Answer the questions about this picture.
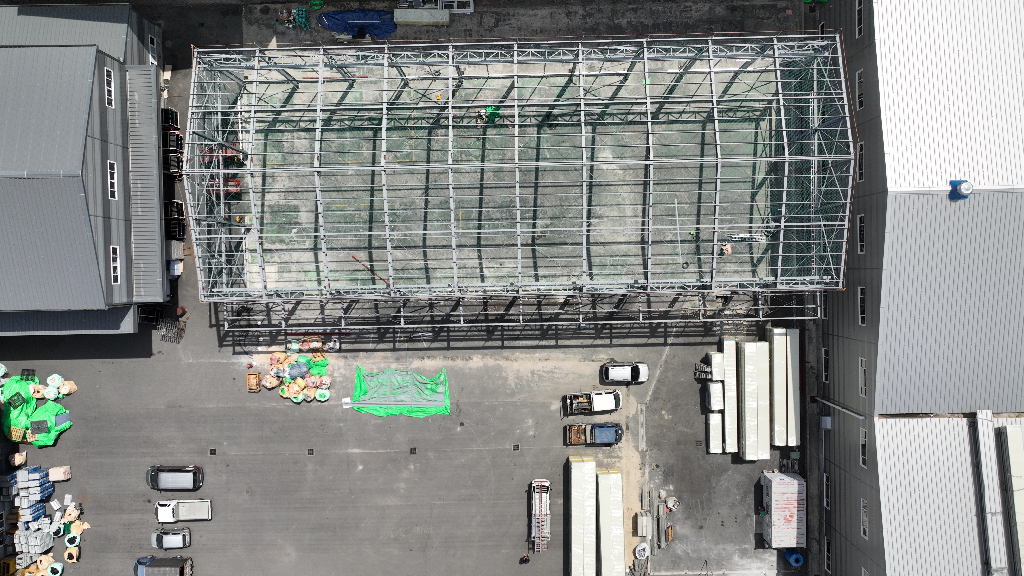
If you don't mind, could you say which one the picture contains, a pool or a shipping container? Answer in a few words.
shipping container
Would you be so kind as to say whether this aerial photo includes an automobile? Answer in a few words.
Yes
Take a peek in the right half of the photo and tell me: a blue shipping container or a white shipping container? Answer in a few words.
white shipping container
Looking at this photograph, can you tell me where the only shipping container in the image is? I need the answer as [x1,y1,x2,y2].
[763,471,807,549]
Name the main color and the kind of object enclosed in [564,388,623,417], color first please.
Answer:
white truck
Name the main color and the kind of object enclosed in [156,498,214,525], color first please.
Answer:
white truck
